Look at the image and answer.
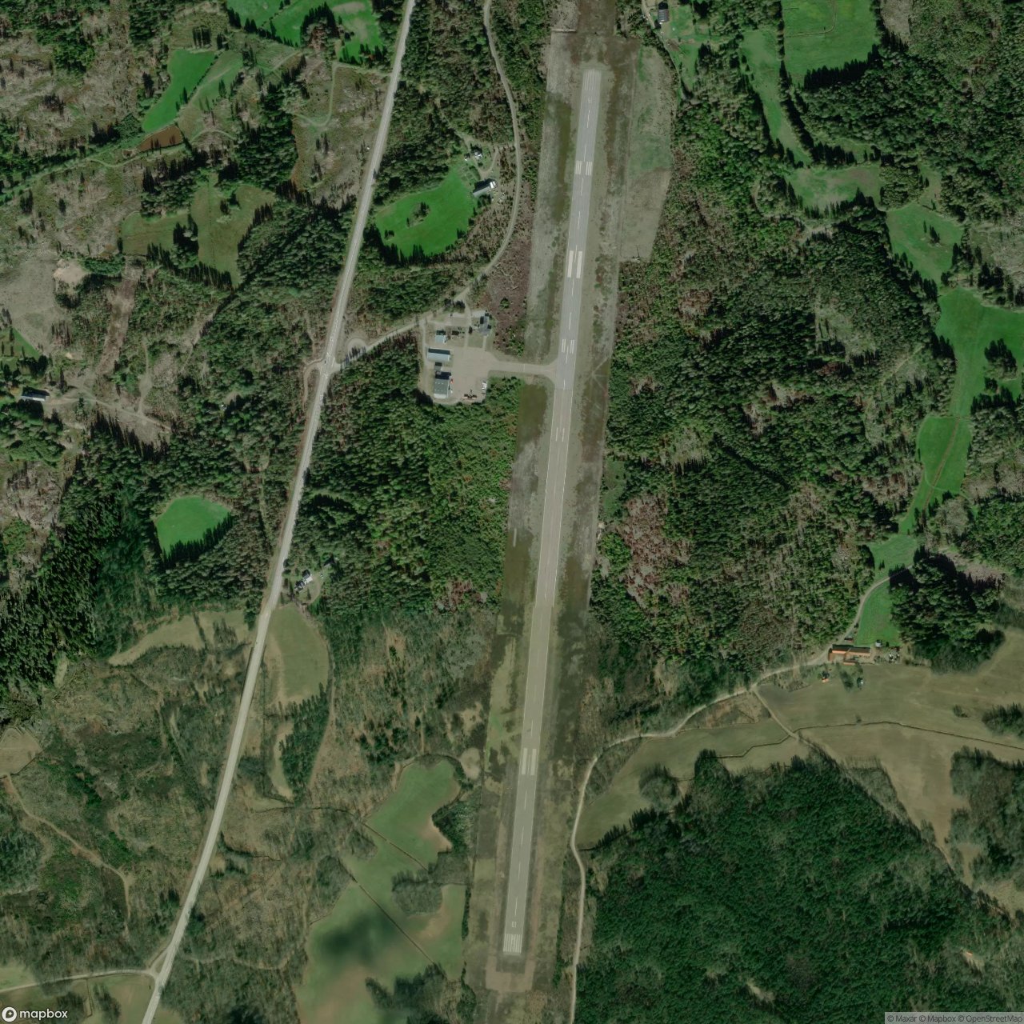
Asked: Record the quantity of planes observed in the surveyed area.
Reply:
0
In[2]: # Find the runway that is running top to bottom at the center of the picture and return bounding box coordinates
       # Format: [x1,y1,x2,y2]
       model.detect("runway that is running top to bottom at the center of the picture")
[503,70,601,957]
